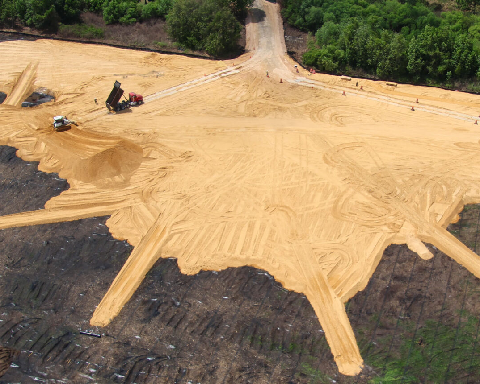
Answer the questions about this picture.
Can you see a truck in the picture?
Yes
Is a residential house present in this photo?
No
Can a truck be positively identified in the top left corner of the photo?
Yes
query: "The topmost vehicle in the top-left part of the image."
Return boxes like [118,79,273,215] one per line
[103,76,142,112]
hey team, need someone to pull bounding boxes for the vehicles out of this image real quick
[103,76,142,112]
[51,114,75,131]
